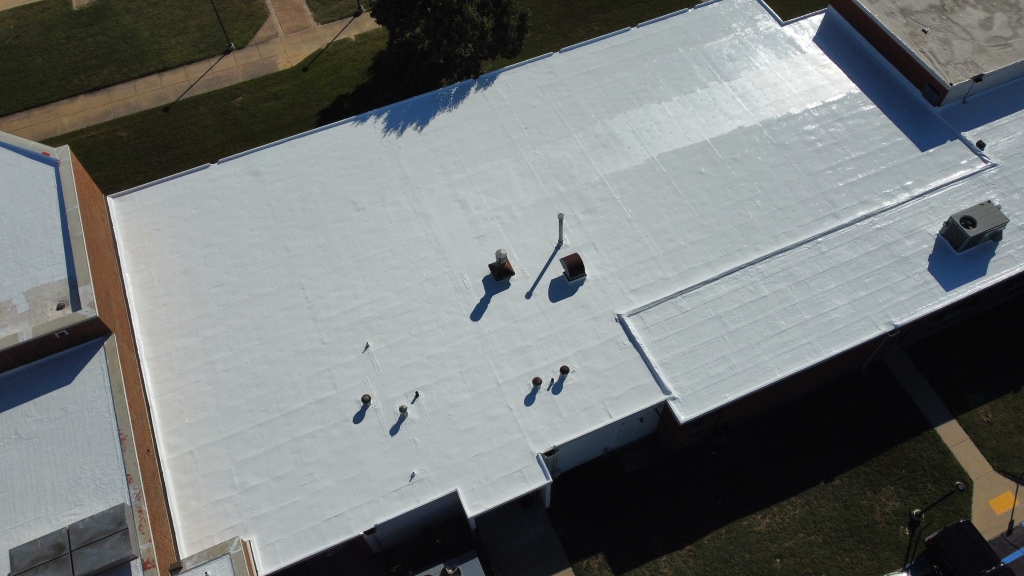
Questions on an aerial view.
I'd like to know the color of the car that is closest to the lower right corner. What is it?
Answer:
black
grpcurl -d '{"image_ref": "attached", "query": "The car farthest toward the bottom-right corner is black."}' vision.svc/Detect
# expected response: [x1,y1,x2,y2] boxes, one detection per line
[921,517,1016,576]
